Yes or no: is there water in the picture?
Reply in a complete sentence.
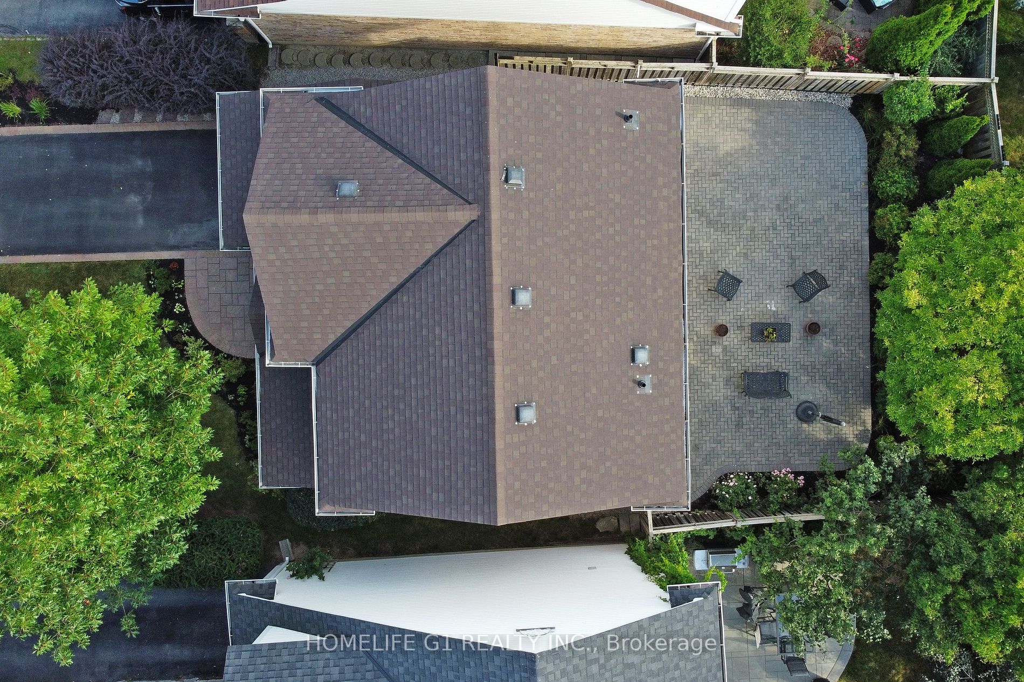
No, water can't be seen anywhere here.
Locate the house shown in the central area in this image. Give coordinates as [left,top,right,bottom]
[217,65,691,526]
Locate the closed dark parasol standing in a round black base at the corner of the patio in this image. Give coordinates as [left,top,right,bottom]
[796,401,847,423]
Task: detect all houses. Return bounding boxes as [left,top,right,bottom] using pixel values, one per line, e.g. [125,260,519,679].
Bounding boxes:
[217,65,691,526]
[226,545,726,682]
[194,0,737,62]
